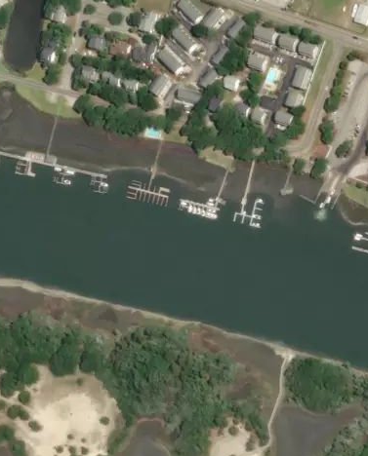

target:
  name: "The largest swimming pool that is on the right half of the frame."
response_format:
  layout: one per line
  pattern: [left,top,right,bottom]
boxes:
[261,63,285,91]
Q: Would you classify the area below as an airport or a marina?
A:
marina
